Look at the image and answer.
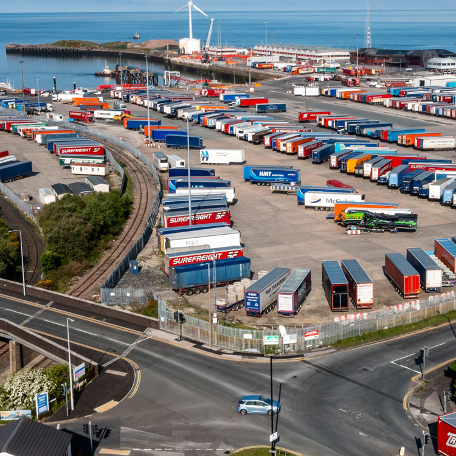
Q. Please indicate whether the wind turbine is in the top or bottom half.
top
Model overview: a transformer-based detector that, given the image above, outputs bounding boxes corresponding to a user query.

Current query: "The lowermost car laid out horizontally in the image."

[238,396,278,414]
